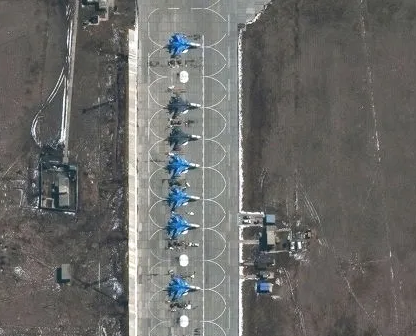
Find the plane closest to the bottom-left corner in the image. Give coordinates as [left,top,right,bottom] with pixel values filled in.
[165,276,200,300]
